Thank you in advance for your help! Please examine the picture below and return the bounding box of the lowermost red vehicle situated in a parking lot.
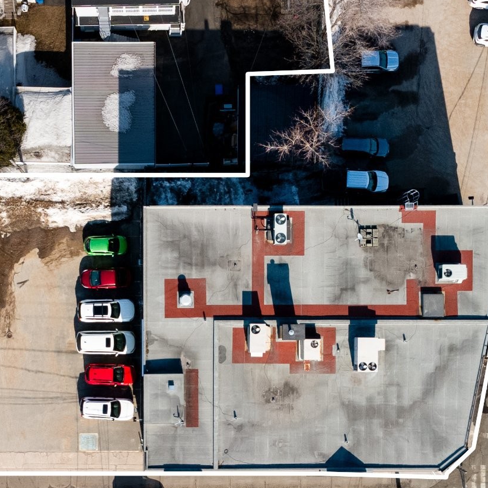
[84,362,133,389]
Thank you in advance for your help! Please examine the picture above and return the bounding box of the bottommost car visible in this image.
[80,396,135,422]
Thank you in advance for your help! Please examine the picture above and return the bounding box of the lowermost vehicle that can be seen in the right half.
[338,168,388,195]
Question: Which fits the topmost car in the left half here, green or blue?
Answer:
green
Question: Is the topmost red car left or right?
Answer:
left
